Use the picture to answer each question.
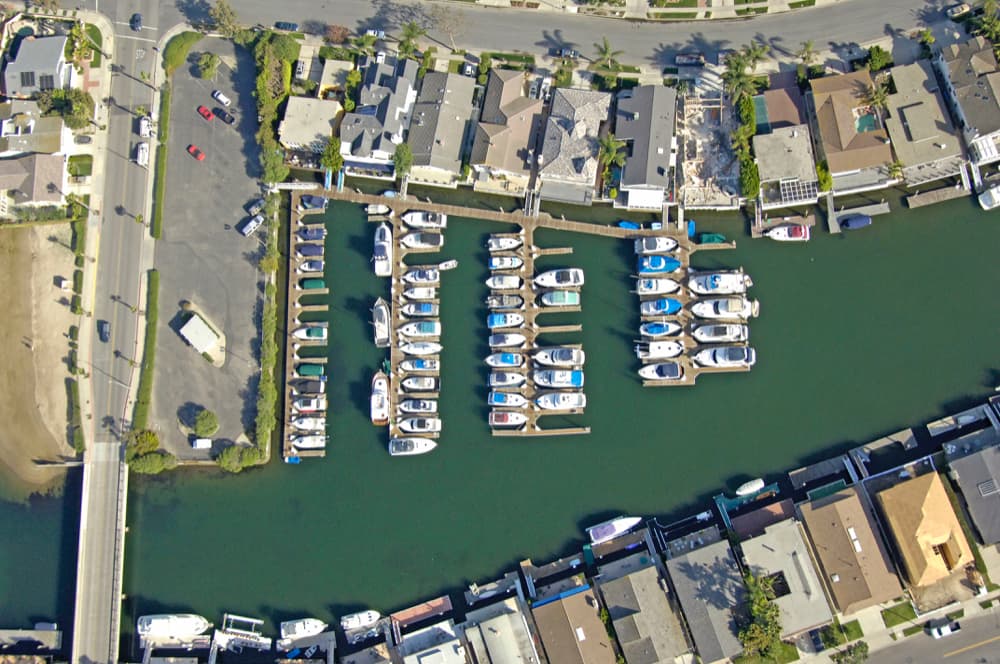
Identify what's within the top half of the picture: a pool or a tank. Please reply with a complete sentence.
What appears within the top half of the picture is a pool.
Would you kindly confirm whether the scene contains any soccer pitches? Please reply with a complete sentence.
No, the scene contains no soccer pitch.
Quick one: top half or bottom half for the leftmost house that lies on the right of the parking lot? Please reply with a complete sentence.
The top half of the photo is where the leftmost house that lies on the right of the parking lot is.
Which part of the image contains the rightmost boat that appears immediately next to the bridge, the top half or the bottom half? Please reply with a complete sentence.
Seen from above, the rightmost boat that appears immediately next to the bridge lies in the bottom half of the view.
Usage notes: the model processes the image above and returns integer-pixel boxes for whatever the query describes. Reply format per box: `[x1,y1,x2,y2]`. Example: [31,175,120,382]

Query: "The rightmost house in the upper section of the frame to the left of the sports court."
[612,87,677,209]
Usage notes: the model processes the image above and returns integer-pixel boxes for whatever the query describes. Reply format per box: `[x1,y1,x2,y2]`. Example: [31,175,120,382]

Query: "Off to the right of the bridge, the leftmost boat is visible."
[134,617,209,640]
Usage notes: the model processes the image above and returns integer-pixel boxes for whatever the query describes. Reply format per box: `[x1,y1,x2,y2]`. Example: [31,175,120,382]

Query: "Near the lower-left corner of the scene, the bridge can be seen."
[71,441,131,664]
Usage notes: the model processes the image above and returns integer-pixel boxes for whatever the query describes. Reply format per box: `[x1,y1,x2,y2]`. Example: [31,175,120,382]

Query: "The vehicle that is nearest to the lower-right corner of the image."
[930,621,958,636]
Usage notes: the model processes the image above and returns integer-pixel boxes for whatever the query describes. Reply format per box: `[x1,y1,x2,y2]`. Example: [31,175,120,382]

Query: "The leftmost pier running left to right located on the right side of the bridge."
[141,635,211,648]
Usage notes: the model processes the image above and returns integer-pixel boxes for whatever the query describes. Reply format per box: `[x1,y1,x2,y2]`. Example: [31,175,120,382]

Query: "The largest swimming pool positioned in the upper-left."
[10,26,34,60]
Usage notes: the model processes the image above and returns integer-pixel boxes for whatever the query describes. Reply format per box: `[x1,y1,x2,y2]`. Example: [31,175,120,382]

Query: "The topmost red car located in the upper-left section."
[196,104,213,120]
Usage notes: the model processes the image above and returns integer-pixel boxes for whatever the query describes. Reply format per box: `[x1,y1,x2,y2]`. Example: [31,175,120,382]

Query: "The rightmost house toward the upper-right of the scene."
[933,35,1000,165]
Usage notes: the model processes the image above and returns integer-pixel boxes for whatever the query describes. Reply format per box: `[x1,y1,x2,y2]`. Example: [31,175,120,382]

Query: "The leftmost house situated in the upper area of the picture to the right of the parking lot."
[279,60,354,156]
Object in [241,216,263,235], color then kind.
white vehicle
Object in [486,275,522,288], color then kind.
white boat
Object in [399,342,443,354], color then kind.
white boat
